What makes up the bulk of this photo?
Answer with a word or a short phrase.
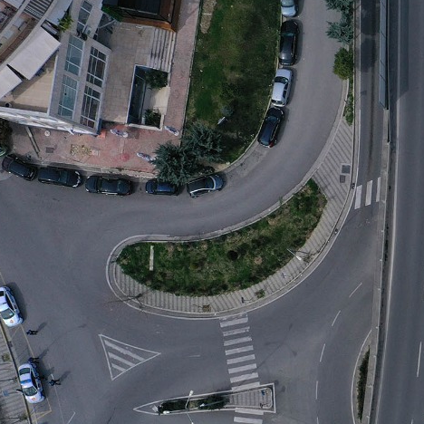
paved ground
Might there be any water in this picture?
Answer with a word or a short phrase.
No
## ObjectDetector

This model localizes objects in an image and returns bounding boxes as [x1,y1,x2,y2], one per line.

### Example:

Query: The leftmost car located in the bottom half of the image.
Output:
[0,285,24,329]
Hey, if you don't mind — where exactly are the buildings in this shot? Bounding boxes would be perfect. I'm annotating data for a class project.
[116,0,184,31]
[0,0,111,134]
